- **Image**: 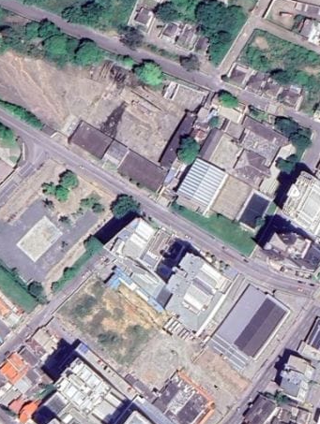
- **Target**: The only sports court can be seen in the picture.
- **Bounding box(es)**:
[16,216,63,263]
